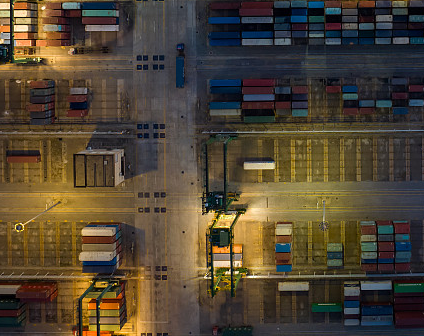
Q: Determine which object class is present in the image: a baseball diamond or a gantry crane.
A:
gantry crane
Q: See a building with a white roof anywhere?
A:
No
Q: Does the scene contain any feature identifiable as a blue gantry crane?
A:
No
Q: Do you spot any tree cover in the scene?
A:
No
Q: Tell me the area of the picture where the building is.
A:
left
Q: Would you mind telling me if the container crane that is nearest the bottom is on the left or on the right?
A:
left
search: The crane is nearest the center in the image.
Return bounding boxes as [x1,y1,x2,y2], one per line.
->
[199,133,240,213]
